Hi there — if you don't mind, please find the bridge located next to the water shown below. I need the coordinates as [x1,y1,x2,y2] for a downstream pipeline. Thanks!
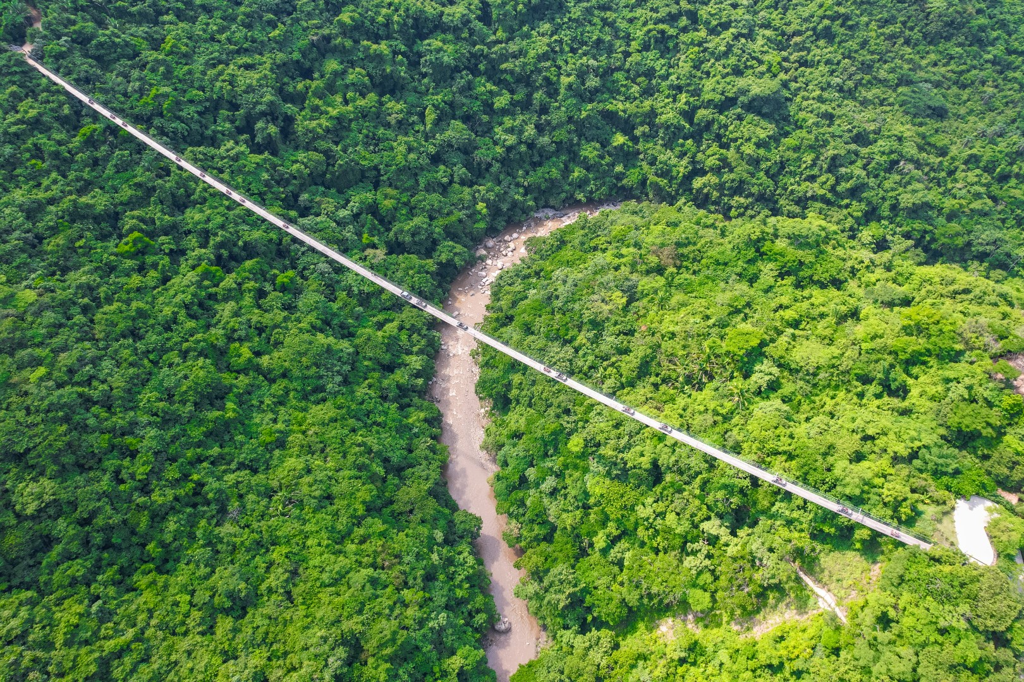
[19,48,939,569]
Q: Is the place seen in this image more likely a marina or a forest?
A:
forest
